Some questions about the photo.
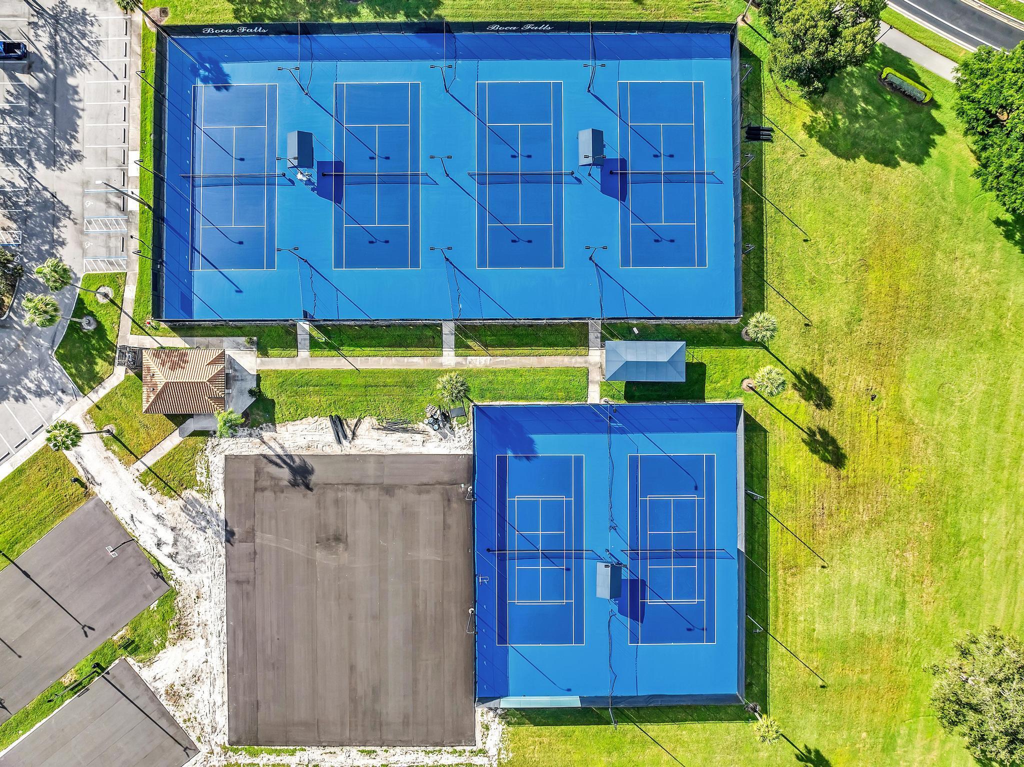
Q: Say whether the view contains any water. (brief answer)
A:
No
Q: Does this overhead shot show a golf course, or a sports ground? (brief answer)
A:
sports ground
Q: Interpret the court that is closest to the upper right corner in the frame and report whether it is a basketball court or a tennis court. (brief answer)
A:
tennis court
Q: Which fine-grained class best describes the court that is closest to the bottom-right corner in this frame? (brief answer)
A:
tennis court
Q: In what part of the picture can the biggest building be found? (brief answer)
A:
left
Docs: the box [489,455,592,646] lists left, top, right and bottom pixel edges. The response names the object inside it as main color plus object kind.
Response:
blue tennis court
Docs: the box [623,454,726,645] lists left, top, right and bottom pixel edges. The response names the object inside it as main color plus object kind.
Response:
blue tennis court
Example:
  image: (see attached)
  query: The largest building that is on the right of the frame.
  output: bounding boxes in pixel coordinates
[605,341,686,382]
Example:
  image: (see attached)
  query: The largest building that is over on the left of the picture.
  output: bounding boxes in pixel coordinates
[142,349,235,414]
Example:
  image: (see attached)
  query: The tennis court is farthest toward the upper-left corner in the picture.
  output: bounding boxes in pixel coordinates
[177,84,283,270]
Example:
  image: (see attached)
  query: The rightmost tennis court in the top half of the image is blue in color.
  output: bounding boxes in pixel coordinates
[613,81,715,268]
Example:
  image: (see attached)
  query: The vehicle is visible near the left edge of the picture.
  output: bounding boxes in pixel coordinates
[0,40,28,61]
